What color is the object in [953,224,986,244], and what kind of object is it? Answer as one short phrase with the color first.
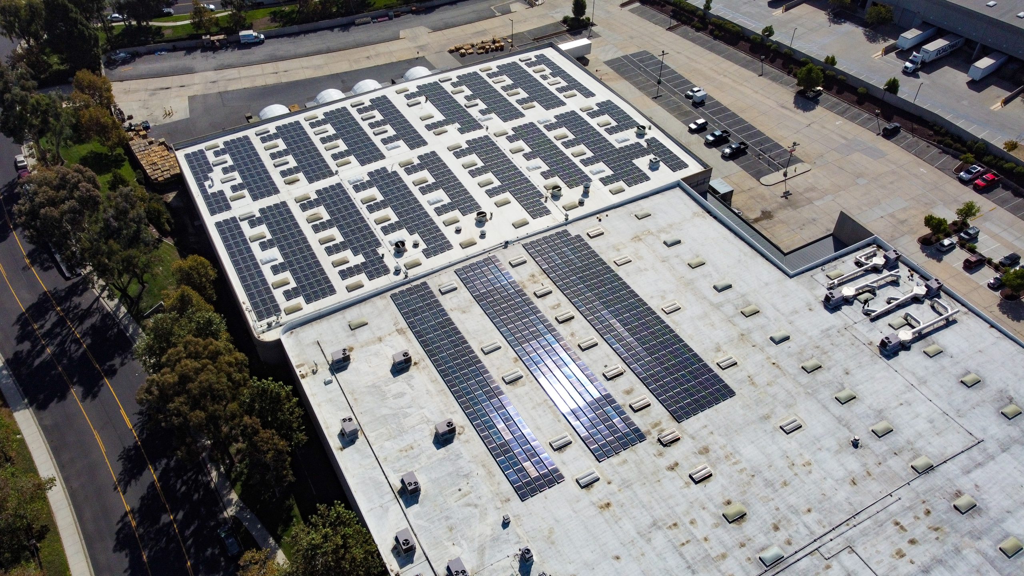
gray vehicle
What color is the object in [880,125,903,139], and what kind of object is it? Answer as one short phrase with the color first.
black car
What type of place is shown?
industrial area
